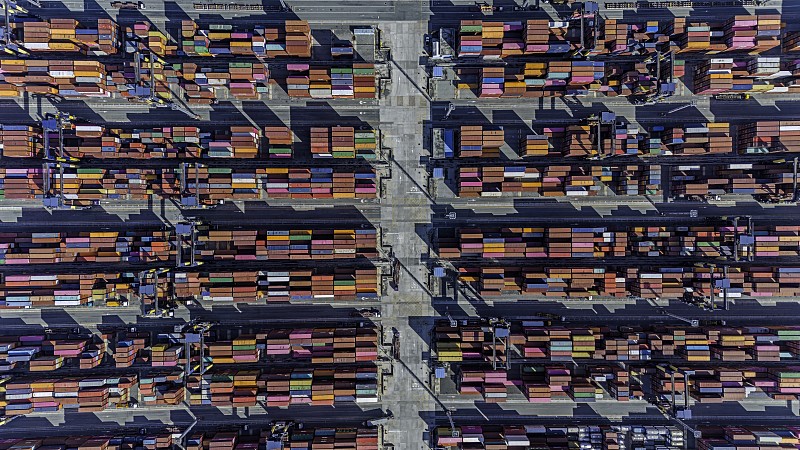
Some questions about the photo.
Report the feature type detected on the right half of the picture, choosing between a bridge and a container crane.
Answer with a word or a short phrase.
container crane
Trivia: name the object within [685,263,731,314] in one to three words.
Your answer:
container crane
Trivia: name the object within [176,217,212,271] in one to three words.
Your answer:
container crane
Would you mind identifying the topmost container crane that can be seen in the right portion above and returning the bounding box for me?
[564,0,599,61]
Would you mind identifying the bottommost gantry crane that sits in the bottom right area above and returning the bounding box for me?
[649,364,691,422]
